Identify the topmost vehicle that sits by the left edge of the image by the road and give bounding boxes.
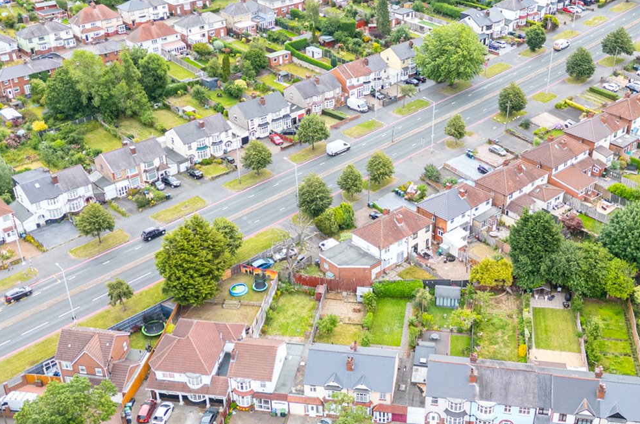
[1,286,34,304]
